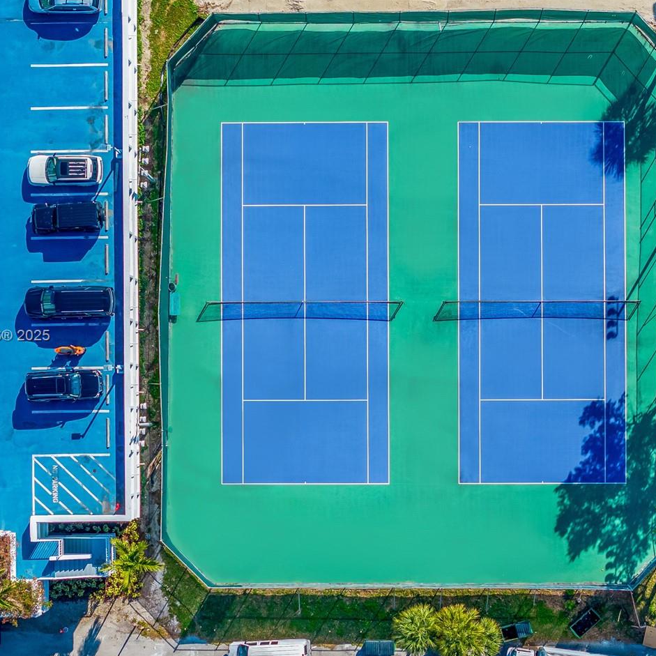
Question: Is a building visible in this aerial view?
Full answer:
No, the photo shows no building.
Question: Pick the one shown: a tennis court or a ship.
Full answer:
I can see a tennis court in this picture.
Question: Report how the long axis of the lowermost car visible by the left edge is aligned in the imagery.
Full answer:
I'd say the lowermost car visible by the left edge is aligned horizontally in the picture.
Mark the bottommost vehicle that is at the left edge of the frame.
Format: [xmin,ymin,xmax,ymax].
[25,366,104,404]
